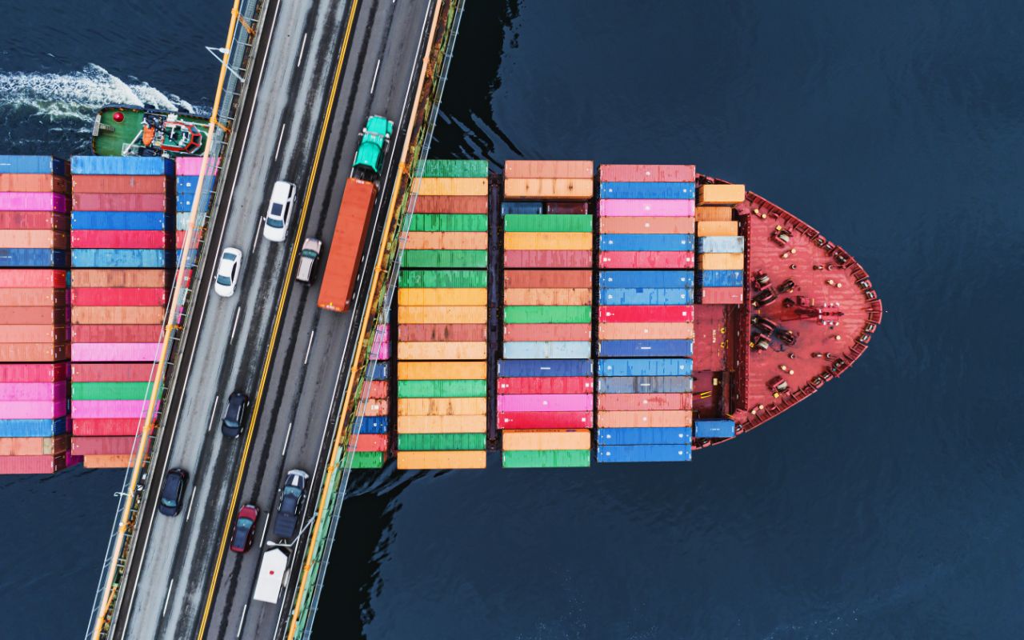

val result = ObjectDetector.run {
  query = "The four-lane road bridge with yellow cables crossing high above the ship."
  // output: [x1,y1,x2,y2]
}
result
[88,0,467,640]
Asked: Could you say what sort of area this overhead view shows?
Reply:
port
